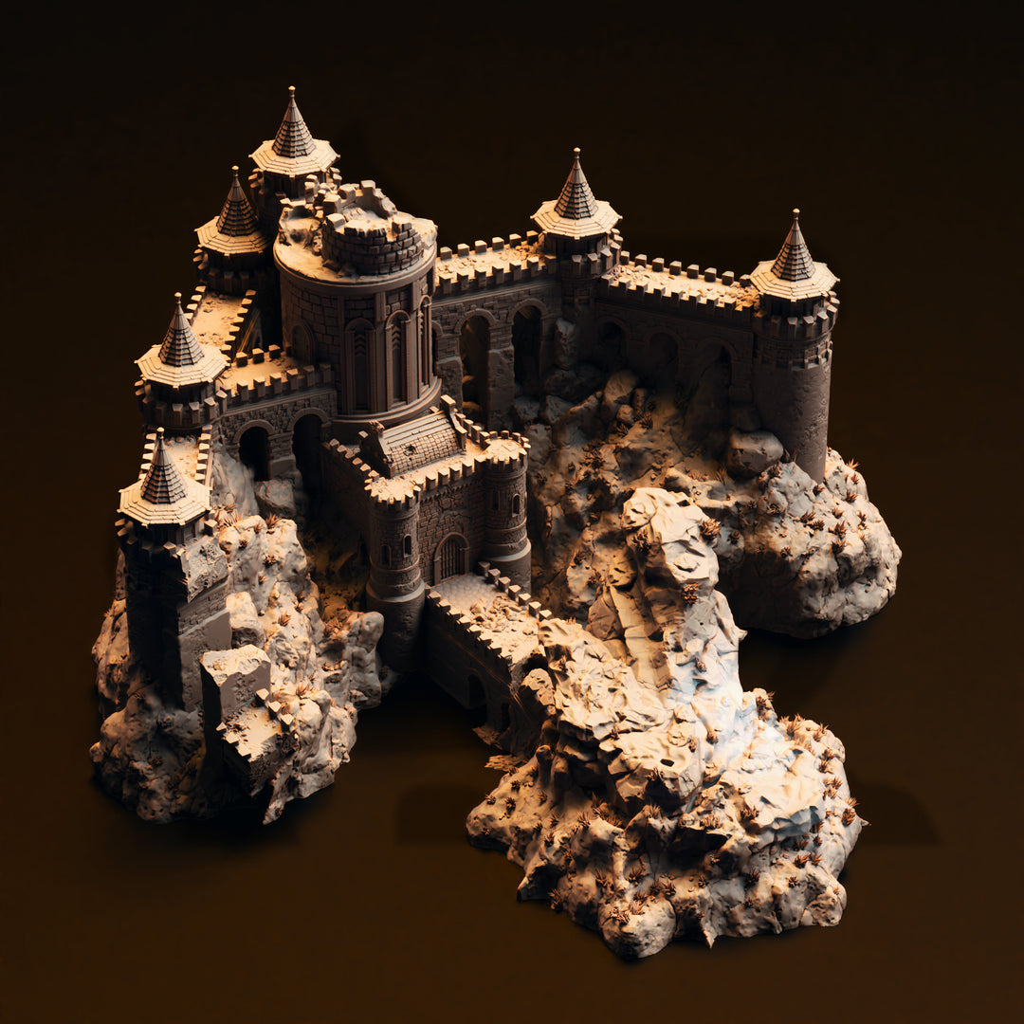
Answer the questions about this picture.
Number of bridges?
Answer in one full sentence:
Only 1 bridge is visible.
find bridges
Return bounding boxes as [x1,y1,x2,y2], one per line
[422,551,576,723]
